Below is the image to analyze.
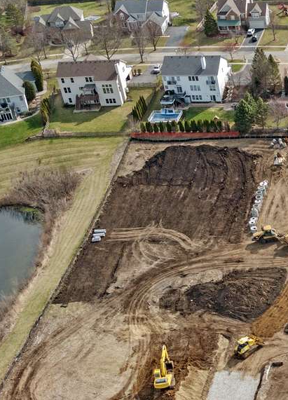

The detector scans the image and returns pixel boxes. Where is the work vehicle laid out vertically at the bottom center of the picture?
[148,339,175,399]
